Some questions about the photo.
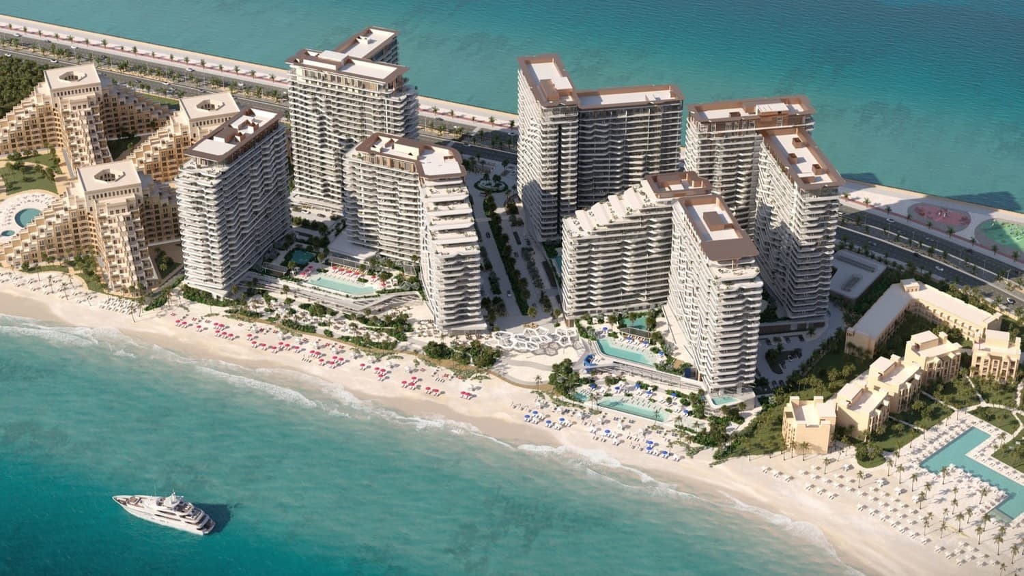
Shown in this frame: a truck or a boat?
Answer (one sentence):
Visible in the photo is a boat.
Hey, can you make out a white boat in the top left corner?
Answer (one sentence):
No, no white boat appears in the top left corner.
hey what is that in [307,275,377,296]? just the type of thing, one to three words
swimming pool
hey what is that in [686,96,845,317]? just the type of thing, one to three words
building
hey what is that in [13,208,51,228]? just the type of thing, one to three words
swimming pool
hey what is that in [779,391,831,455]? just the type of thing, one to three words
house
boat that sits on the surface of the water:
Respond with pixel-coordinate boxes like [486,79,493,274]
[112,497,217,539]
